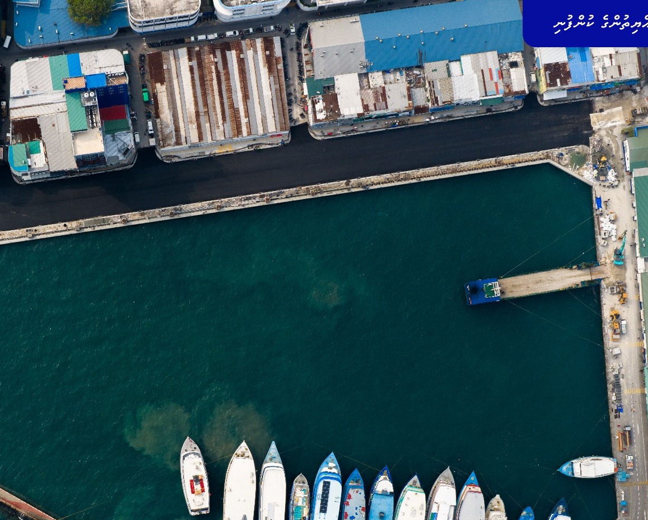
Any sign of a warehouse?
Yes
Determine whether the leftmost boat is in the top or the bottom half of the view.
bottom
